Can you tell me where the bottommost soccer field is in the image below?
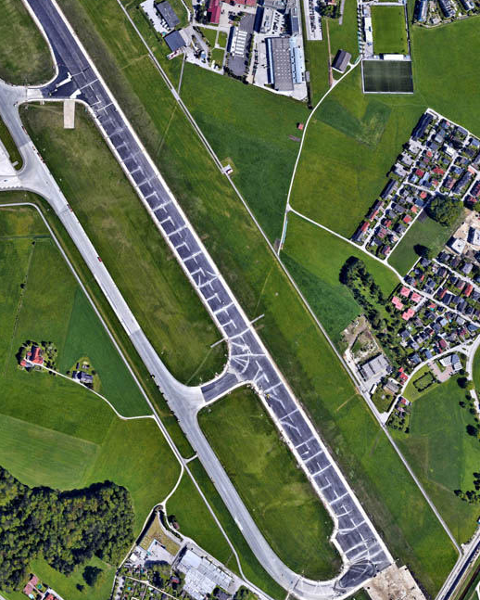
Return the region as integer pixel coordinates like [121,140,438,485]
[361,59,413,94]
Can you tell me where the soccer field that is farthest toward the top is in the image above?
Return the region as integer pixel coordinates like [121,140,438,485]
[369,6,407,54]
